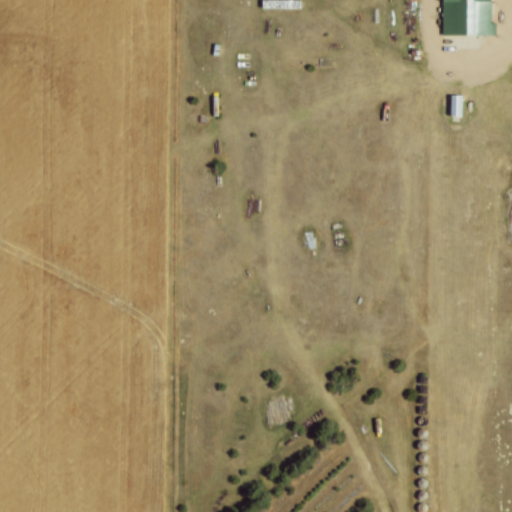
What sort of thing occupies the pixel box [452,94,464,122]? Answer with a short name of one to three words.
shed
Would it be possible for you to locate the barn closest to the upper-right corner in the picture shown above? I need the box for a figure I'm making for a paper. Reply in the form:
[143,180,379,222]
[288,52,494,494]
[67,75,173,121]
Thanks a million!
[444,0,498,36]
